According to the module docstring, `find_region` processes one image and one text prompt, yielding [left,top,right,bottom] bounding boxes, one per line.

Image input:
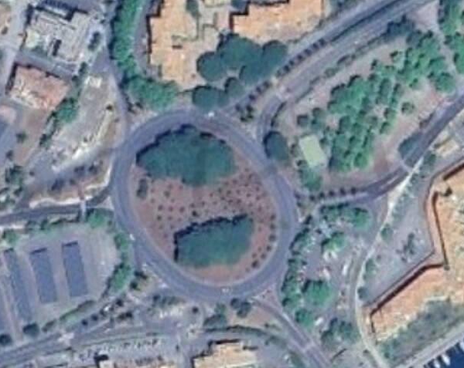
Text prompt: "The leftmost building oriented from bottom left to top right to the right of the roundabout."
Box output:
[364,257,447,341]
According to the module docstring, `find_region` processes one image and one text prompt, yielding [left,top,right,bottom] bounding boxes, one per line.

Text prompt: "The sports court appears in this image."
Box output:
[300,135,327,167]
